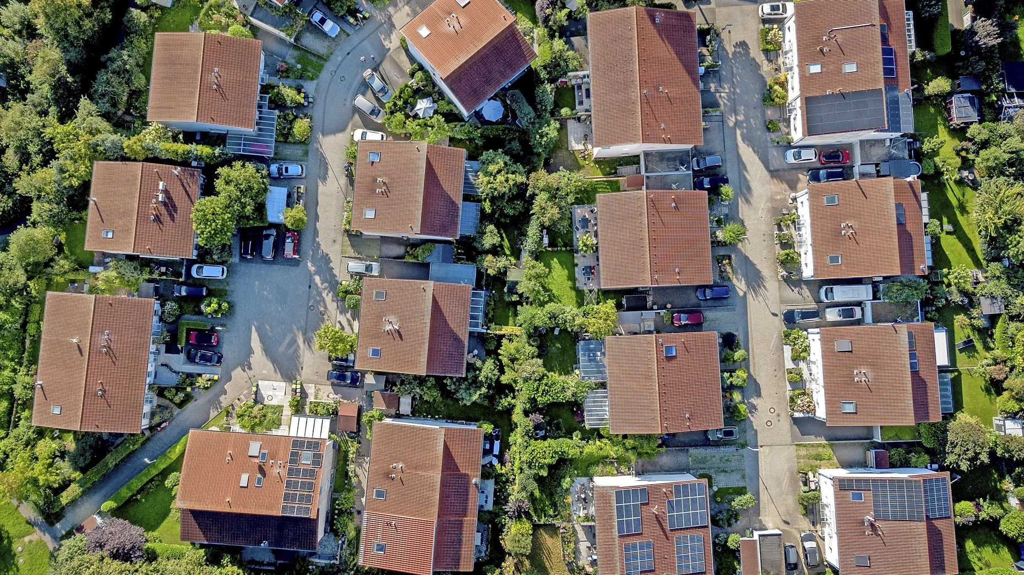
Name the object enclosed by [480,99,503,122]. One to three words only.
umbrella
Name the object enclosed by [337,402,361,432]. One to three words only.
shed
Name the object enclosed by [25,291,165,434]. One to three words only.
house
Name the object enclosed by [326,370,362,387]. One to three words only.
car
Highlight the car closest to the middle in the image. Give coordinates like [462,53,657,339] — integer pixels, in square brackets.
[346,261,381,277]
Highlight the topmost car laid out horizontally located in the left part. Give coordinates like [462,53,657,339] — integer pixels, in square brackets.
[355,127,385,141]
